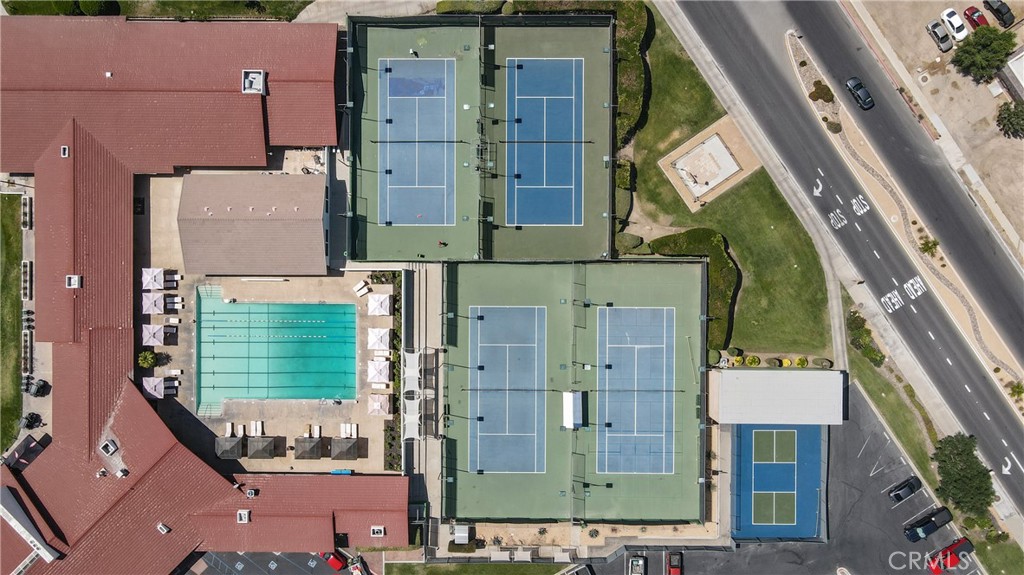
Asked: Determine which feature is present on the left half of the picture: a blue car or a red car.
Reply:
red car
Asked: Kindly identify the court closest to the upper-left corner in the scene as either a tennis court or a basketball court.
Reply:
tennis court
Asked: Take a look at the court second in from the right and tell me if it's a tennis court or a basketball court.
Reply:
tennis court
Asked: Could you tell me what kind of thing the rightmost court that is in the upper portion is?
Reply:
tennis court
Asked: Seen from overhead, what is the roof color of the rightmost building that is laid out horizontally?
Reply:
white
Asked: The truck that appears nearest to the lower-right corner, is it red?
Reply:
Yes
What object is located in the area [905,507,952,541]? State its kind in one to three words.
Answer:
truck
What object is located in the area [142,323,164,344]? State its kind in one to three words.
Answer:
umbrella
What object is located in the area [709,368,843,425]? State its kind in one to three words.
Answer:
building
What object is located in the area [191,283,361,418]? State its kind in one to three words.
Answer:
swimming pool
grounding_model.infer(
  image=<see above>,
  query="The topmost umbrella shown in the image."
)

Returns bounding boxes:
[142,268,164,289]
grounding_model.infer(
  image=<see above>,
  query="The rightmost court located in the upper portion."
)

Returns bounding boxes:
[481,24,611,261]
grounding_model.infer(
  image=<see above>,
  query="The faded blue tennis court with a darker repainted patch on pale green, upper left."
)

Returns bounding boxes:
[352,24,481,261]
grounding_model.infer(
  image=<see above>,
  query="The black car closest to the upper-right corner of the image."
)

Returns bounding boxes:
[983,0,1012,28]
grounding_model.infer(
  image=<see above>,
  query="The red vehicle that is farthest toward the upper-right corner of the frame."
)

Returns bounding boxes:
[962,2,989,33]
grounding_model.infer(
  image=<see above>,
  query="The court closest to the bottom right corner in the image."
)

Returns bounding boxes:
[732,425,821,538]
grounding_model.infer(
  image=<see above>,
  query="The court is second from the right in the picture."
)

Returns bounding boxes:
[573,262,701,518]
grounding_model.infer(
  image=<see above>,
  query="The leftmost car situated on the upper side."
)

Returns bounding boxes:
[845,77,873,111]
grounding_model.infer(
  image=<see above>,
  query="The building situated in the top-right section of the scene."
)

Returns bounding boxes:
[996,51,1024,108]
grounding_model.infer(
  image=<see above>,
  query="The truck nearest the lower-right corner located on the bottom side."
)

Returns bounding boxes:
[930,539,974,571]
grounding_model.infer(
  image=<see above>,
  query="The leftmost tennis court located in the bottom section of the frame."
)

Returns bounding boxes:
[444,262,573,518]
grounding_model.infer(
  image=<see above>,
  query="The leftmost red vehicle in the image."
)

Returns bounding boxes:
[320,552,347,574]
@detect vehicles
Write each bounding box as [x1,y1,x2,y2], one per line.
[962,2,989,33]
[983,0,1012,28]
[926,20,951,53]
[845,77,873,111]
[939,7,967,42]
[346,556,367,575]
[320,552,347,574]
[930,539,974,571]
[905,507,952,541]
[667,551,683,575]
[888,476,921,501]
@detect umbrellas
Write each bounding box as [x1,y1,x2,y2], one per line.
[143,377,165,398]
[142,268,164,289]
[368,328,390,350]
[368,394,389,415]
[142,292,164,314]
[368,294,390,315]
[142,323,164,344]
[368,361,389,382]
